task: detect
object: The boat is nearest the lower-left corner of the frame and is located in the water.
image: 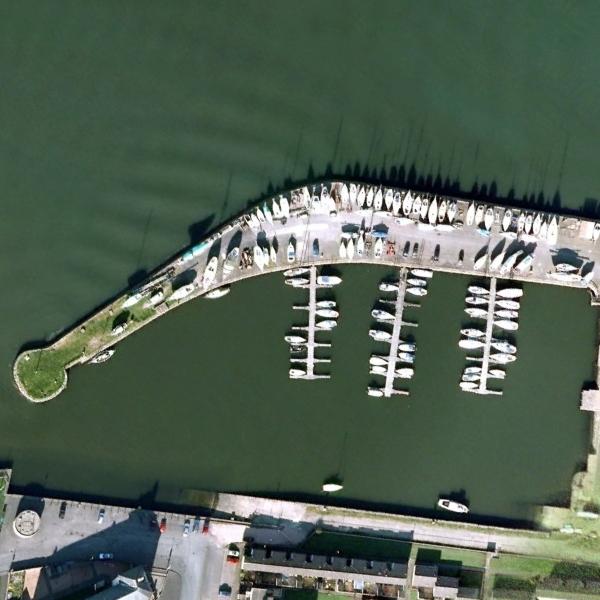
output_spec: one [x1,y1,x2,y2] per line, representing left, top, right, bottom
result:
[88,350,116,364]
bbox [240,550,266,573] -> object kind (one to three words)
house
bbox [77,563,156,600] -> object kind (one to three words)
building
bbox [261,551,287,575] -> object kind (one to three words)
house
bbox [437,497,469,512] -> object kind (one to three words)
boat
